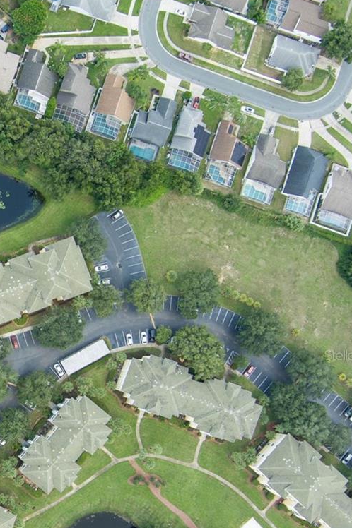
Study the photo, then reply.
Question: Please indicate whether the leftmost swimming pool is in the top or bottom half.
top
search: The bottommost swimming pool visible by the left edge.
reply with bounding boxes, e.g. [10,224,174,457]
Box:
[13,87,50,117]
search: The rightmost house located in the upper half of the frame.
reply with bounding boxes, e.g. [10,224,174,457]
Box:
[317,163,352,219]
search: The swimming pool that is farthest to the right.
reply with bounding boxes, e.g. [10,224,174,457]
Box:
[312,211,351,236]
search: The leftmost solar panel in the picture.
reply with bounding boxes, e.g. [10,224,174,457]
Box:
[193,126,210,154]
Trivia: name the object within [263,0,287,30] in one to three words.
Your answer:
swimming pool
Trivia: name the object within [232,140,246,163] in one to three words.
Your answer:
solar panel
